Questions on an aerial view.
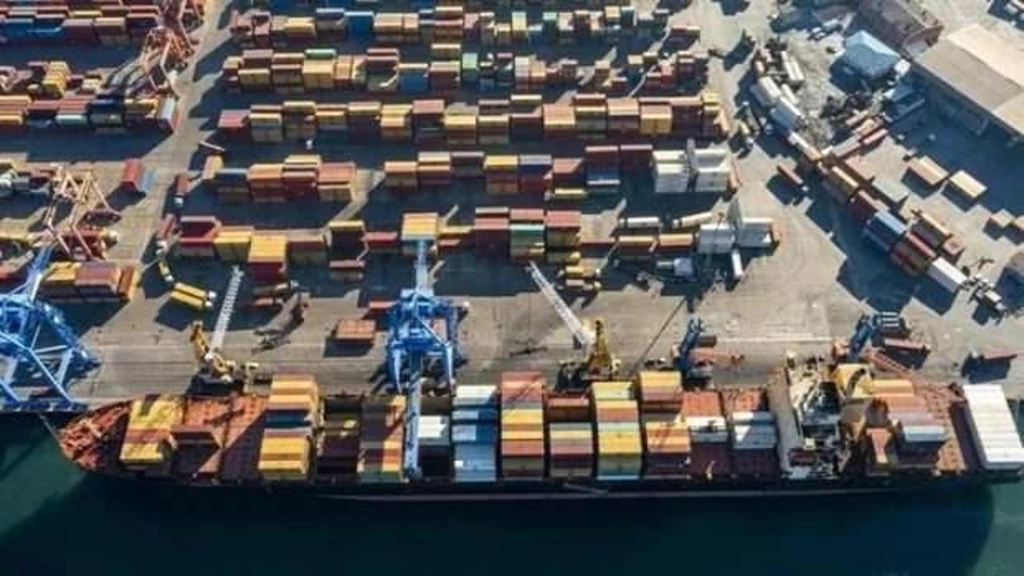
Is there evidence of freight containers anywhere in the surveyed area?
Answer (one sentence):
Yes, a freight container can be made out from above.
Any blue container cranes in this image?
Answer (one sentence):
Yes, the frame does contain a blue container crane.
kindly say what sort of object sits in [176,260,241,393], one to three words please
crane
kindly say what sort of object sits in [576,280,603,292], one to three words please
vehicle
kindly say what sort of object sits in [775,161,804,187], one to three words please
shipping container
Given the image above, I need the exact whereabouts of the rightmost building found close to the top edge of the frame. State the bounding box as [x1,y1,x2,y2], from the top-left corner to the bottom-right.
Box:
[904,26,1024,160]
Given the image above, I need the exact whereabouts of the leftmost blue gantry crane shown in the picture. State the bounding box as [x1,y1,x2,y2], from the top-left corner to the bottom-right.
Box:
[0,230,104,404]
